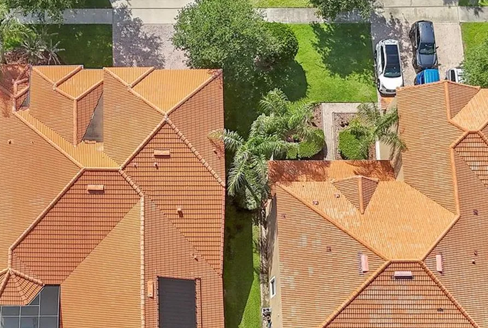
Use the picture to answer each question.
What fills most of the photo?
buildings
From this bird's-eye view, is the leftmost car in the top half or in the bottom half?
top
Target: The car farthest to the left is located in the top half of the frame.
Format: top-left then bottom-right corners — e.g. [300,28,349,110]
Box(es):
[371,41,406,95]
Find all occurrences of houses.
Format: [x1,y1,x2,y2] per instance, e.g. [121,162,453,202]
[263,79,488,328]
[0,64,226,328]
